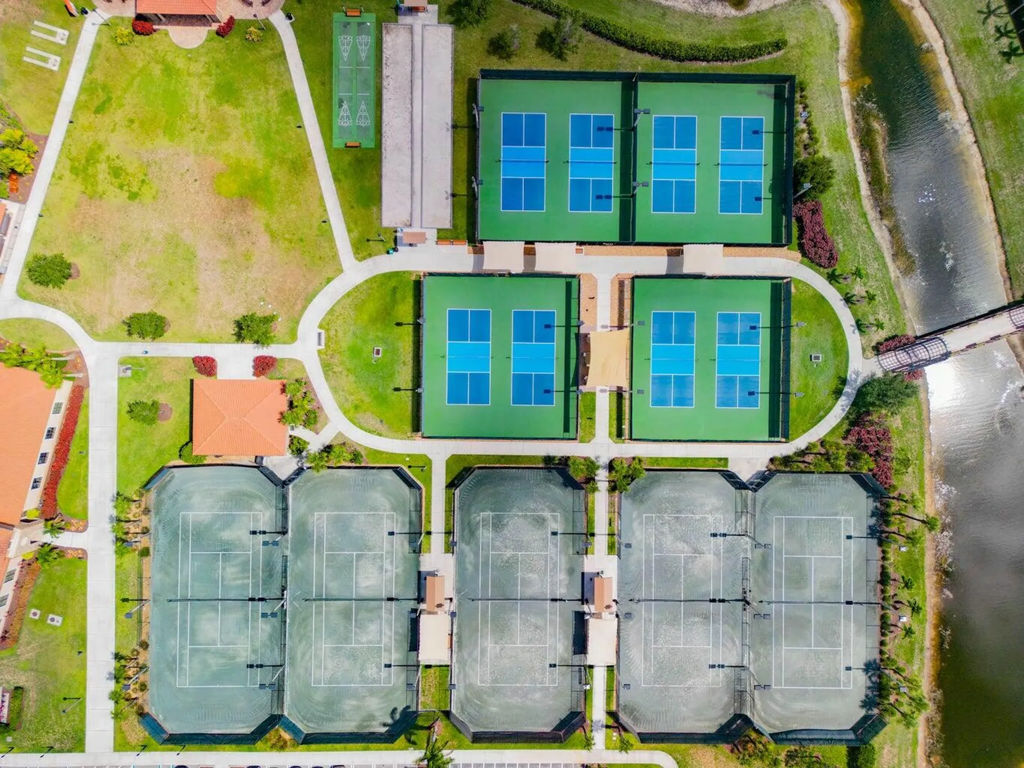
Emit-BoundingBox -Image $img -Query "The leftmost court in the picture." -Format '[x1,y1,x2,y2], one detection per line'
[148,469,285,734]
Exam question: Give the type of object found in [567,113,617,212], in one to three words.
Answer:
sports court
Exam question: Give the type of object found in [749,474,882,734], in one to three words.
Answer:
tennis court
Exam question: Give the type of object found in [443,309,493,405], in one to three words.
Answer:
sports court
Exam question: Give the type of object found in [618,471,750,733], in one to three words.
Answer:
tennis court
